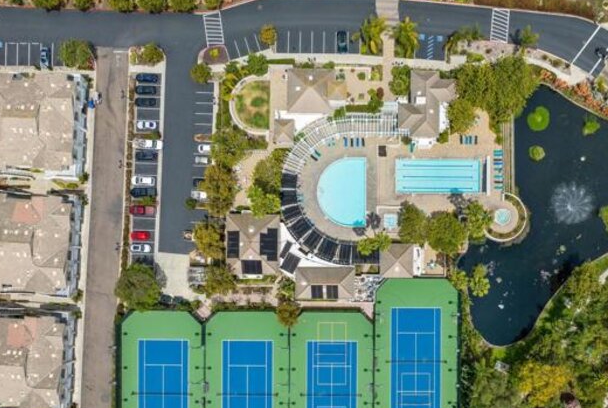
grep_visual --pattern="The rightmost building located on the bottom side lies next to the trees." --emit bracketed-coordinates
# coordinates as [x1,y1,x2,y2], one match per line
[379,243,422,277]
